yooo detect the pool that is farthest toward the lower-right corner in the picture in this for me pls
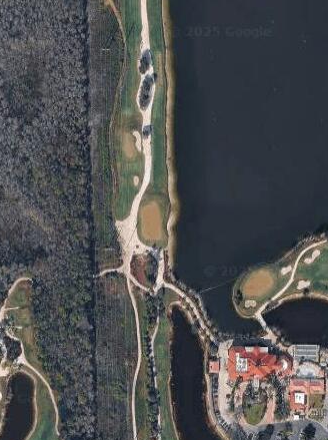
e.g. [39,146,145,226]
[296,362,319,379]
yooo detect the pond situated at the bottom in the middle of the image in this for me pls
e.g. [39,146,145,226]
[171,302,221,440]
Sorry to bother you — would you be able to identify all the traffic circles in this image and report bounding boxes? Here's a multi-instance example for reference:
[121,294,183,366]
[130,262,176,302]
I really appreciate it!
[235,380,274,431]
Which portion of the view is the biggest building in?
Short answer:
bottom right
